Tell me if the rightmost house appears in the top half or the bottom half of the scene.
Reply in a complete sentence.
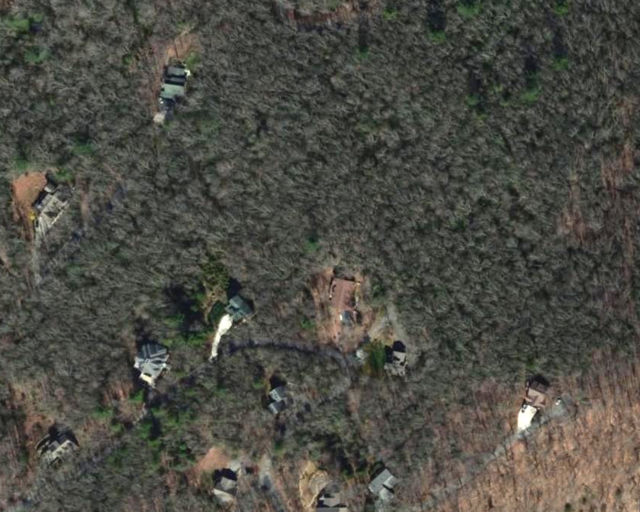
Seen from above, the rightmost house lies in the bottom half of the view.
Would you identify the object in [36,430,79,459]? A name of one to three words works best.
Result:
house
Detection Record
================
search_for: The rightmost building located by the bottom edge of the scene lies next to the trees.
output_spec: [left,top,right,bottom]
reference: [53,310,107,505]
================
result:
[366,470,398,506]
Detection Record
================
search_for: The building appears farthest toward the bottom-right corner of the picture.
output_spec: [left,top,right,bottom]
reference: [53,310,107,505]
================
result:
[524,380,549,408]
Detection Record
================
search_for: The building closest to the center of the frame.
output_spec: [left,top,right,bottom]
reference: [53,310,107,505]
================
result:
[331,277,361,310]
